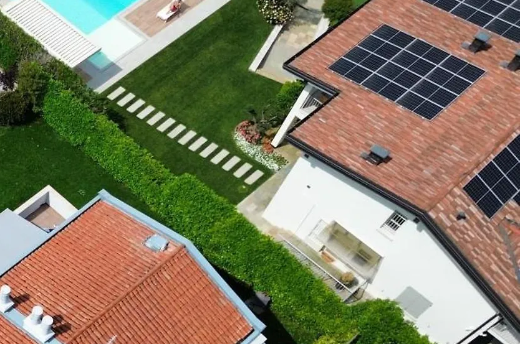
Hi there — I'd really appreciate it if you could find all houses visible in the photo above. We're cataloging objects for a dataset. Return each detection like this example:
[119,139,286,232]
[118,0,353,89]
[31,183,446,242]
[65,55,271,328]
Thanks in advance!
[263,0,520,344]
[0,185,264,344]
